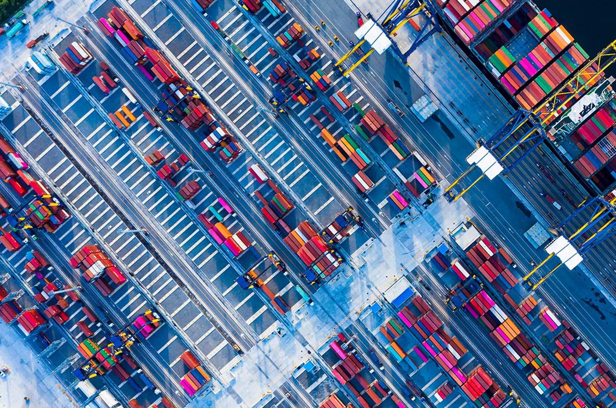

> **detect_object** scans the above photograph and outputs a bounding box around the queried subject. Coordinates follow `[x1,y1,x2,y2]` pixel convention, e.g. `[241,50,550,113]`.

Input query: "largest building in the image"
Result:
[382,278,414,308]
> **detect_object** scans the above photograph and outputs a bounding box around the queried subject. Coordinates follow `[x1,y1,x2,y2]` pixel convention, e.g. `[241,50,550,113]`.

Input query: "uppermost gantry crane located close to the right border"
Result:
[442,37,616,205]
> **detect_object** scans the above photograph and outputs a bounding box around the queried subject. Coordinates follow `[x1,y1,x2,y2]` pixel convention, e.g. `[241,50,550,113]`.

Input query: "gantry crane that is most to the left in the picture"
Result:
[5,192,63,229]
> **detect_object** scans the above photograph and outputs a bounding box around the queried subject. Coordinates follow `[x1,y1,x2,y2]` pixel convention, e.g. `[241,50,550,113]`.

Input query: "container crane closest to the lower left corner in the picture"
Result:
[72,341,128,381]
